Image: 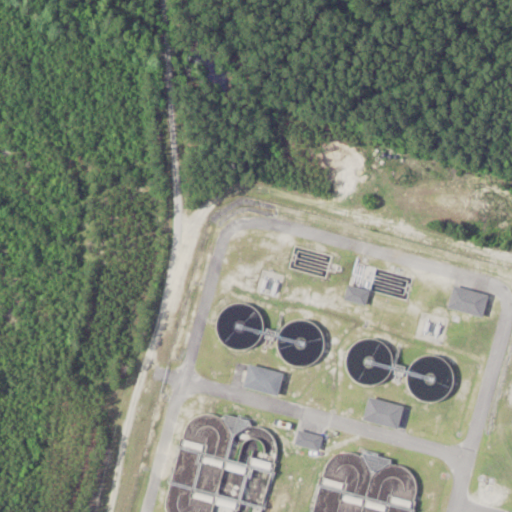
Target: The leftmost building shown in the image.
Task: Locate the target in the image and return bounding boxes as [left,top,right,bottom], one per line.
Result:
[243,365,283,396]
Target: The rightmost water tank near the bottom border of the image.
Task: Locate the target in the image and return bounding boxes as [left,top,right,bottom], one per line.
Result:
[312,452,418,512]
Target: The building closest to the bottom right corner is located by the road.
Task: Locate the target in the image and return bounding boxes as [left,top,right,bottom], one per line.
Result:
[364,398,404,428]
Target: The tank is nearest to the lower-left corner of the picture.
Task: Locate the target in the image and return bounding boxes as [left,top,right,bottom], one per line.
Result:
[168,413,278,512]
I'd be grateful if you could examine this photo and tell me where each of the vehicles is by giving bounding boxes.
[276,422,292,430]
[308,451,322,457]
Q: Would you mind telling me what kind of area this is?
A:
industrial area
